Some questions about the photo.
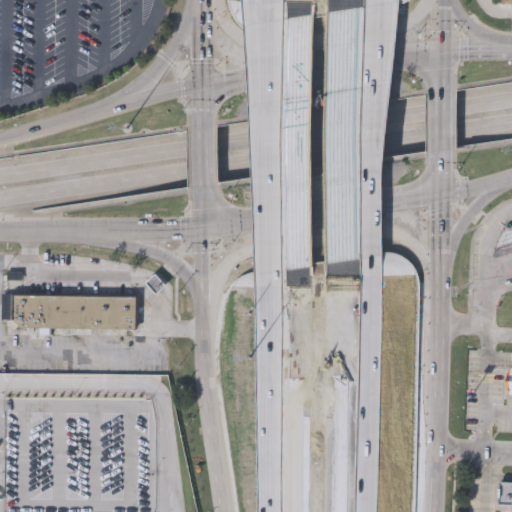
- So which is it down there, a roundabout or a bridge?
bridge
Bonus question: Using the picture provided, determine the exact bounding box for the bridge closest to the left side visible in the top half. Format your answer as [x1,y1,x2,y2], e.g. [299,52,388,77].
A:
[188,129,219,186]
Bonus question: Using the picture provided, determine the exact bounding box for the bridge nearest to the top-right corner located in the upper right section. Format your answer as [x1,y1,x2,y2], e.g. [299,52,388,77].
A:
[424,93,458,151]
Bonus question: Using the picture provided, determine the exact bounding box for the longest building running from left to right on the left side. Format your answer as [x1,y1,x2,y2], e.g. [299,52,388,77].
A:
[2,293,136,338]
